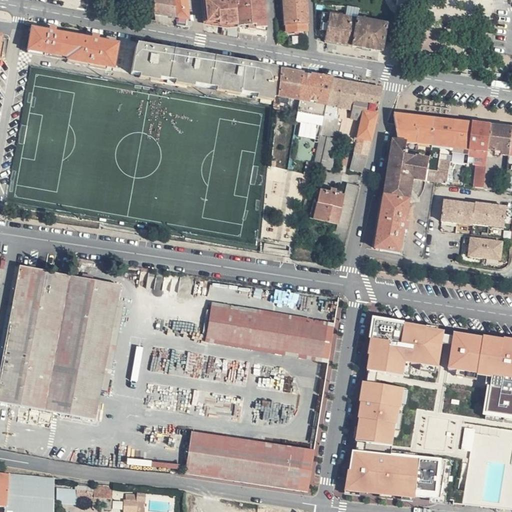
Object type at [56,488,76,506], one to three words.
shed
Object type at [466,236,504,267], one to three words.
house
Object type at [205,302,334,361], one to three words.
building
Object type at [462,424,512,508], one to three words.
swimming pool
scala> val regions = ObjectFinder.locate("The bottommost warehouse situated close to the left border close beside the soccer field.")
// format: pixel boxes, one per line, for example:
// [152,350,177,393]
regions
[0,265,120,425]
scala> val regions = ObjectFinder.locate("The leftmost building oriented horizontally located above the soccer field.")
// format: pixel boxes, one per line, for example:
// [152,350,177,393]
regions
[28,22,120,69]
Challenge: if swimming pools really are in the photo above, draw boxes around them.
[144,494,176,512]
[462,424,512,508]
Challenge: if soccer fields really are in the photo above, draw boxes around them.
[7,66,273,250]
